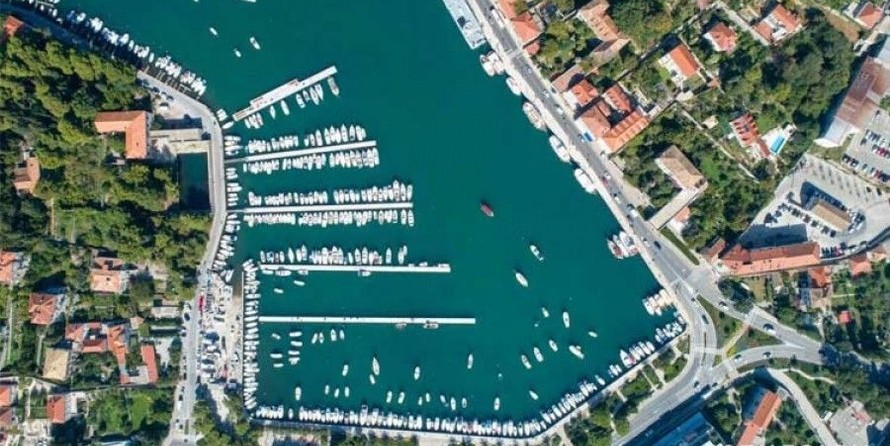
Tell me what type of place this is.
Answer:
port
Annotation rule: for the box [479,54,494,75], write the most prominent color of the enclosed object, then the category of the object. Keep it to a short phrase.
white boat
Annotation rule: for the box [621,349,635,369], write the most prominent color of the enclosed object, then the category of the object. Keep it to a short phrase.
white boat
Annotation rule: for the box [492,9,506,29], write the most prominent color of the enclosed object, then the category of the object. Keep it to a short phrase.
white vehicle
